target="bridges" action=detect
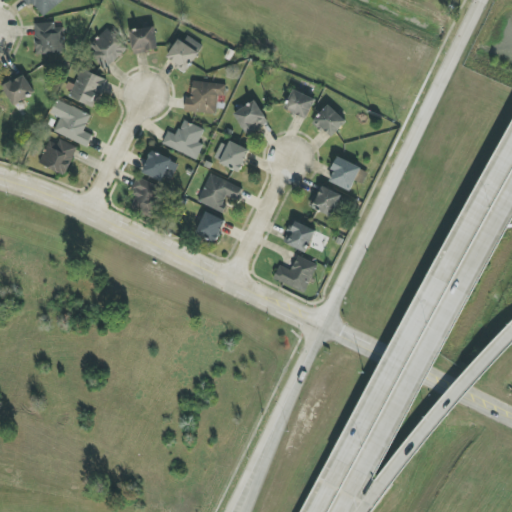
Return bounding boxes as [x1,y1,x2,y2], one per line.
[300,121,512,512]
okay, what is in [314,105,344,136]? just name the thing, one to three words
house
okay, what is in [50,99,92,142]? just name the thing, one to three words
house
